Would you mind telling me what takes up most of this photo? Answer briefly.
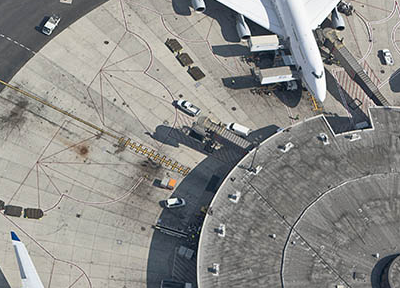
paved ground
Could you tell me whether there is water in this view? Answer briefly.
No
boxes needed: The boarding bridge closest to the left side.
[188,119,255,158]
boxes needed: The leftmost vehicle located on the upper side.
[42,14,61,34]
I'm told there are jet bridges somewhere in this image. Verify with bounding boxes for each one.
[314,34,394,108]
[188,119,255,158]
